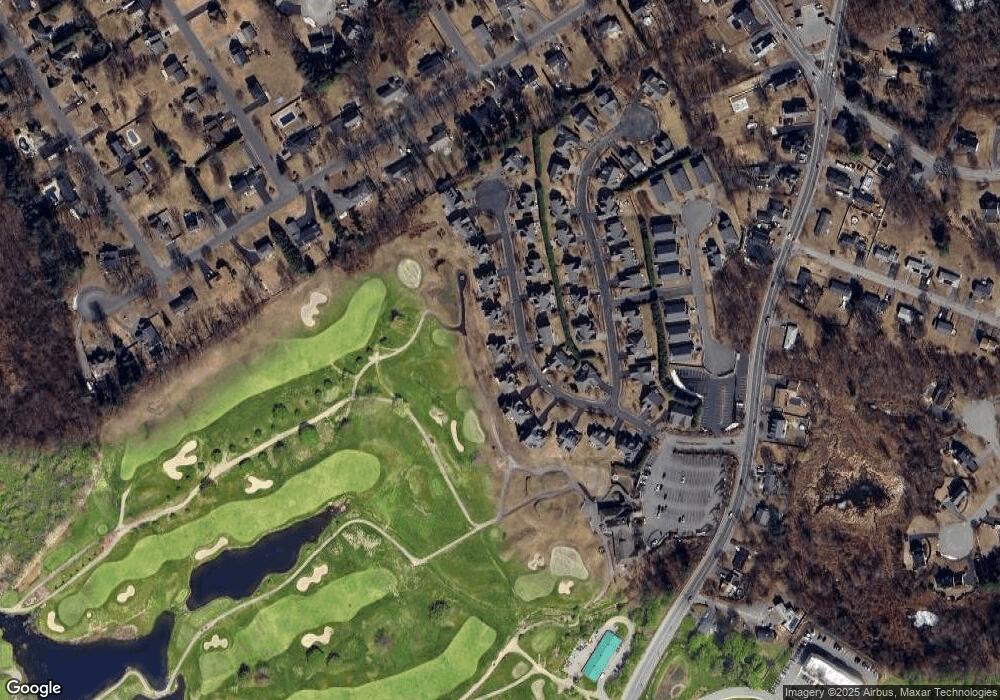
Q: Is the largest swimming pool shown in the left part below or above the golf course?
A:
above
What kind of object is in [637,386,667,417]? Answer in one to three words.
house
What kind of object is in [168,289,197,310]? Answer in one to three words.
house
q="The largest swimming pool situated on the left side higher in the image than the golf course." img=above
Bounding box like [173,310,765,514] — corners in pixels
[273,105,301,131]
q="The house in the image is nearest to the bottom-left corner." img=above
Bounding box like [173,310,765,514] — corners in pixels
[89,350,119,369]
